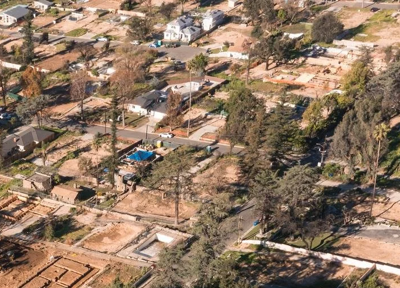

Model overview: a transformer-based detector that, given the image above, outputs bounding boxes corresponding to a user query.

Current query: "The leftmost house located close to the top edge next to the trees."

[0,5,30,25]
